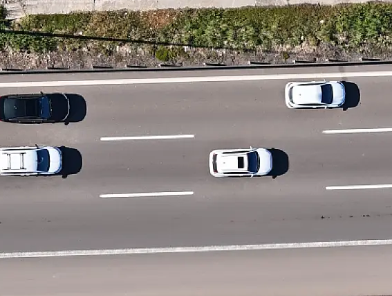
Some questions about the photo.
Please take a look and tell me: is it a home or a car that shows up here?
car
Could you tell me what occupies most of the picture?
paved ground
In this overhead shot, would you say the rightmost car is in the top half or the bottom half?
top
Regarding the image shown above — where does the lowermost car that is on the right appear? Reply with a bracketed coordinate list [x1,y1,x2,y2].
[209,146,273,180]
